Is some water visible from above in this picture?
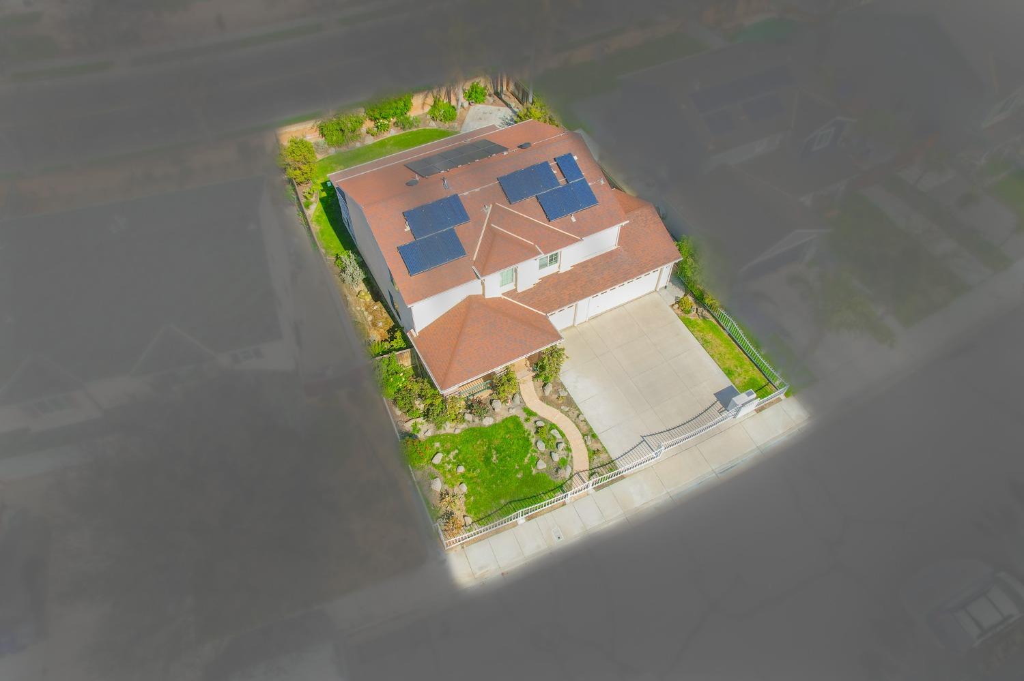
No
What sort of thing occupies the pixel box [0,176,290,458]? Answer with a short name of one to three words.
house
